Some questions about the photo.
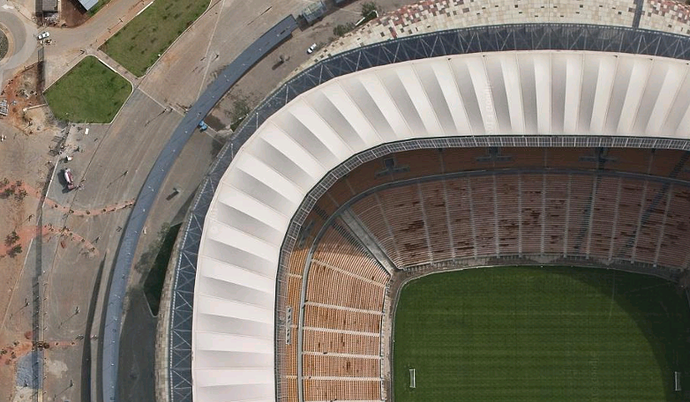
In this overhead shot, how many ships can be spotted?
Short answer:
zero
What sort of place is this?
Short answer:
sports ground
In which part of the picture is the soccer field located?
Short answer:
bottom right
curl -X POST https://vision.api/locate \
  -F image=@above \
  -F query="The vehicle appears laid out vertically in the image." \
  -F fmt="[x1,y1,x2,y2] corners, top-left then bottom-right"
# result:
[61,165,73,189]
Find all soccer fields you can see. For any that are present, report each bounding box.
[391,264,690,402]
